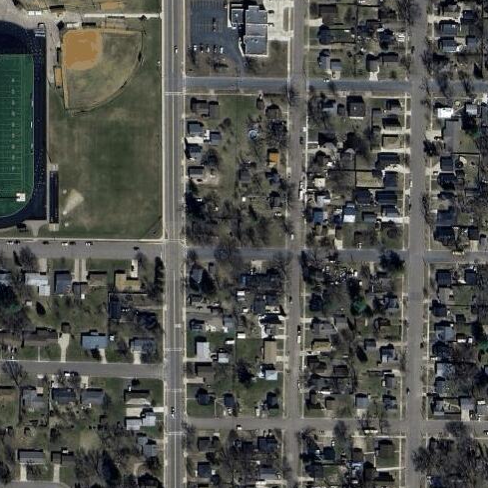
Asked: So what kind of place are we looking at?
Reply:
residential area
